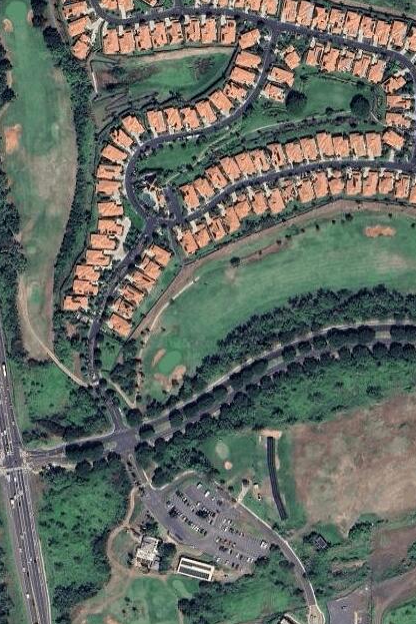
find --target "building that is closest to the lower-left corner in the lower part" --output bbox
[136,536,159,568]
